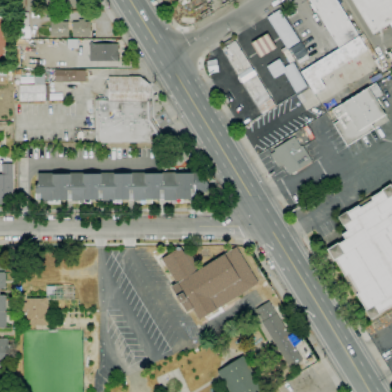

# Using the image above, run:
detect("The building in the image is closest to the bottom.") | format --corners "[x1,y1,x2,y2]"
[219,355,258,392]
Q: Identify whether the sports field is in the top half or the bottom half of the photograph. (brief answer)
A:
bottom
